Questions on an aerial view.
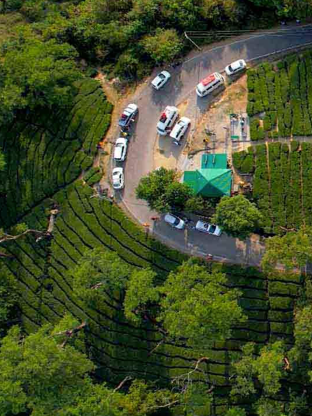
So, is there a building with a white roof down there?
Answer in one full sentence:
No, I can see no building with a white roof in this picture.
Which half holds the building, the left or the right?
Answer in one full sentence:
The building appears in the right half of the scene.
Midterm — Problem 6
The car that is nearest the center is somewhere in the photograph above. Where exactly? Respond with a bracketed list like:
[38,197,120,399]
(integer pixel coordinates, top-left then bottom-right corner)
[162,213,187,231]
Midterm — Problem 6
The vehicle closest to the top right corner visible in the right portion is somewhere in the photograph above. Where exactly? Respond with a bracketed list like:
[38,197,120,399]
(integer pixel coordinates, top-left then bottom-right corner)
[224,59,247,77]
